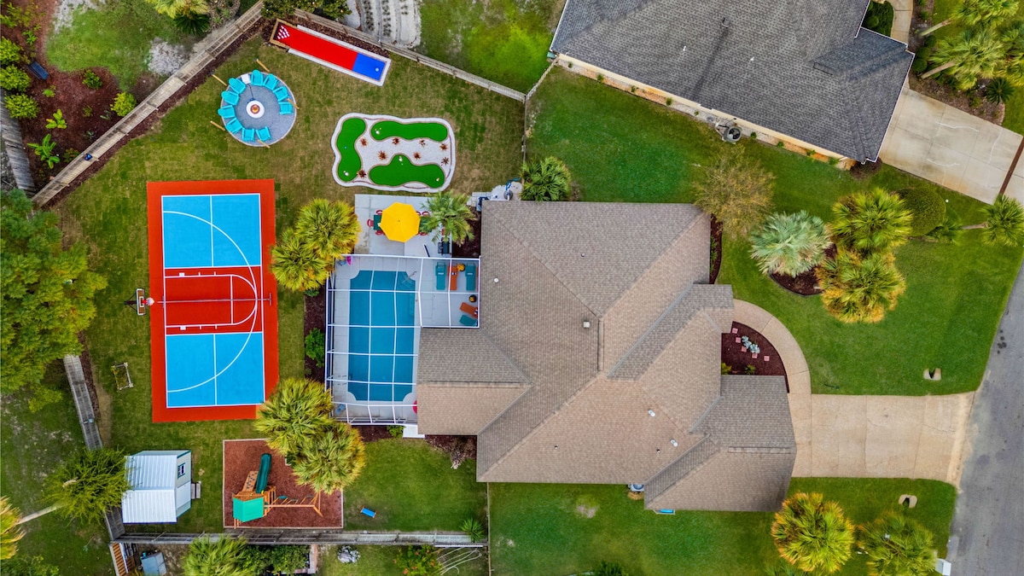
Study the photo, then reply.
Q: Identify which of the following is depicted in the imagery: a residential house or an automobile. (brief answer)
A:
residential house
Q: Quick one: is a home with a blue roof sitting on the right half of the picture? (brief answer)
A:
No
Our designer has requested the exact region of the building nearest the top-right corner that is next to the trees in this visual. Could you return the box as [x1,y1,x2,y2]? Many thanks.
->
[550,0,915,162]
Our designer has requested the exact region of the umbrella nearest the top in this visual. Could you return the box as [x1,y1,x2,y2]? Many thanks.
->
[382,203,421,243]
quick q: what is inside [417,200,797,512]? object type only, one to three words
house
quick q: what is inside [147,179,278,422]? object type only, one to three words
sports court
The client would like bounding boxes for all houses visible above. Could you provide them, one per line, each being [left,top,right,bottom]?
[550,0,915,162]
[417,200,797,512]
